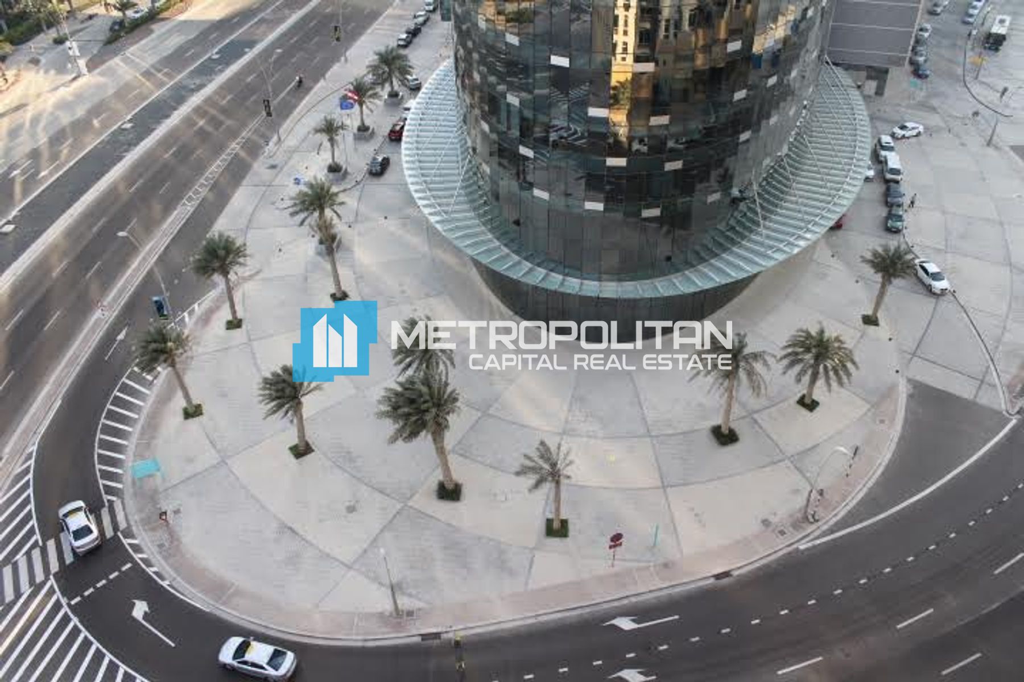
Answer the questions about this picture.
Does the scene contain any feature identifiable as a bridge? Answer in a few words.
No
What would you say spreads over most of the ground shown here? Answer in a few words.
paved ground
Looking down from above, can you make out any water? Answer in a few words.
No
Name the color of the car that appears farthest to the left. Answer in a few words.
white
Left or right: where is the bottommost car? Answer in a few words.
left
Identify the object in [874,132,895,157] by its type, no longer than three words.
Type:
car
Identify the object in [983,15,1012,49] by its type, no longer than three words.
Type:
bus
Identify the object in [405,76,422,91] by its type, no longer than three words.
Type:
car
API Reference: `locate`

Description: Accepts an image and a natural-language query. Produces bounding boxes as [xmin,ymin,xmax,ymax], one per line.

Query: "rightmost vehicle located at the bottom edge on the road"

[220,635,296,681]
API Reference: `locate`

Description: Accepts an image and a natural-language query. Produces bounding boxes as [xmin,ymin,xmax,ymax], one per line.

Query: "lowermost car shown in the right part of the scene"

[914,263,948,293]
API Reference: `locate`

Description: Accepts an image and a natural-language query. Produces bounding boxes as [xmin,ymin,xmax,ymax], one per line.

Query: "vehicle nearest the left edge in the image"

[59,502,99,553]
